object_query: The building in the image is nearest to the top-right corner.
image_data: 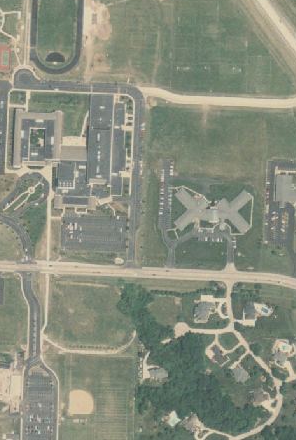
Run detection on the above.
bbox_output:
[276,176,296,201]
